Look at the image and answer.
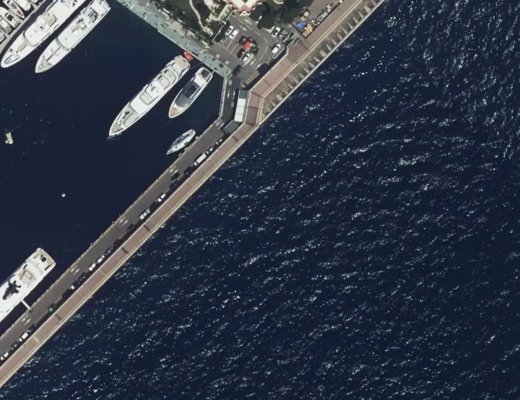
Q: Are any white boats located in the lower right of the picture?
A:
No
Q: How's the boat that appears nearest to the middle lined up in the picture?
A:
at an angle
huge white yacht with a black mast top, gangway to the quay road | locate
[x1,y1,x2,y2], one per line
[0,249,53,320]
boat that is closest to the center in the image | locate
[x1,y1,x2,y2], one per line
[166,129,196,155]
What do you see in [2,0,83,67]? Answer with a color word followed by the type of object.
white boat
